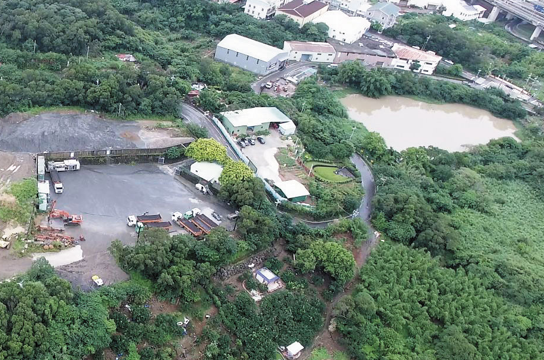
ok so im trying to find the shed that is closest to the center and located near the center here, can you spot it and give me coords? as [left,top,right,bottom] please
[271,179,312,204]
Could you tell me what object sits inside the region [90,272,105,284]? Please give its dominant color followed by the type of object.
white vehicle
